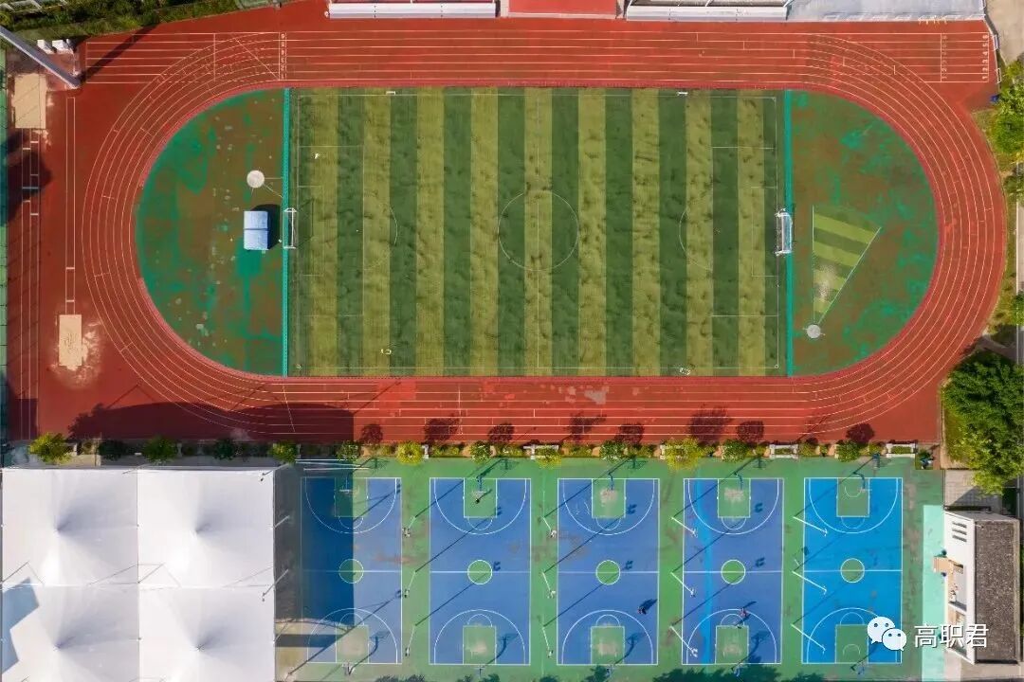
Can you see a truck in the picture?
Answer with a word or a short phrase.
No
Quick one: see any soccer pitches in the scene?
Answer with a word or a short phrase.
Yes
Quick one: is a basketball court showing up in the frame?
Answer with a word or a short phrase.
Yes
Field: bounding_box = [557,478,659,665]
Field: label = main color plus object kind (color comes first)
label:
blue basketball court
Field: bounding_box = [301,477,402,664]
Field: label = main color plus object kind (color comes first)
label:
blue basketball court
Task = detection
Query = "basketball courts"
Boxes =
[557,478,659,665]
[803,477,903,664]
[301,477,402,664]
[683,478,784,665]
[429,478,531,665]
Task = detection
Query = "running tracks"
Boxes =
[8,0,1006,442]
